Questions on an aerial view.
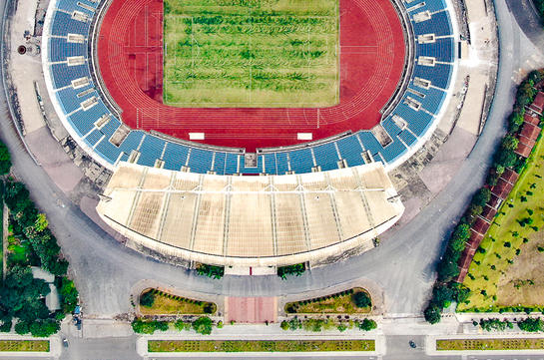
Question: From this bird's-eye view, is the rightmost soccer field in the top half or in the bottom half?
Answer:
top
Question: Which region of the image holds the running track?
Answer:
top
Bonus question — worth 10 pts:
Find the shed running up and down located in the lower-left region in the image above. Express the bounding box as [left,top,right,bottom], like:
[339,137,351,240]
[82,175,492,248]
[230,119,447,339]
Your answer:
[46,282,60,311]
